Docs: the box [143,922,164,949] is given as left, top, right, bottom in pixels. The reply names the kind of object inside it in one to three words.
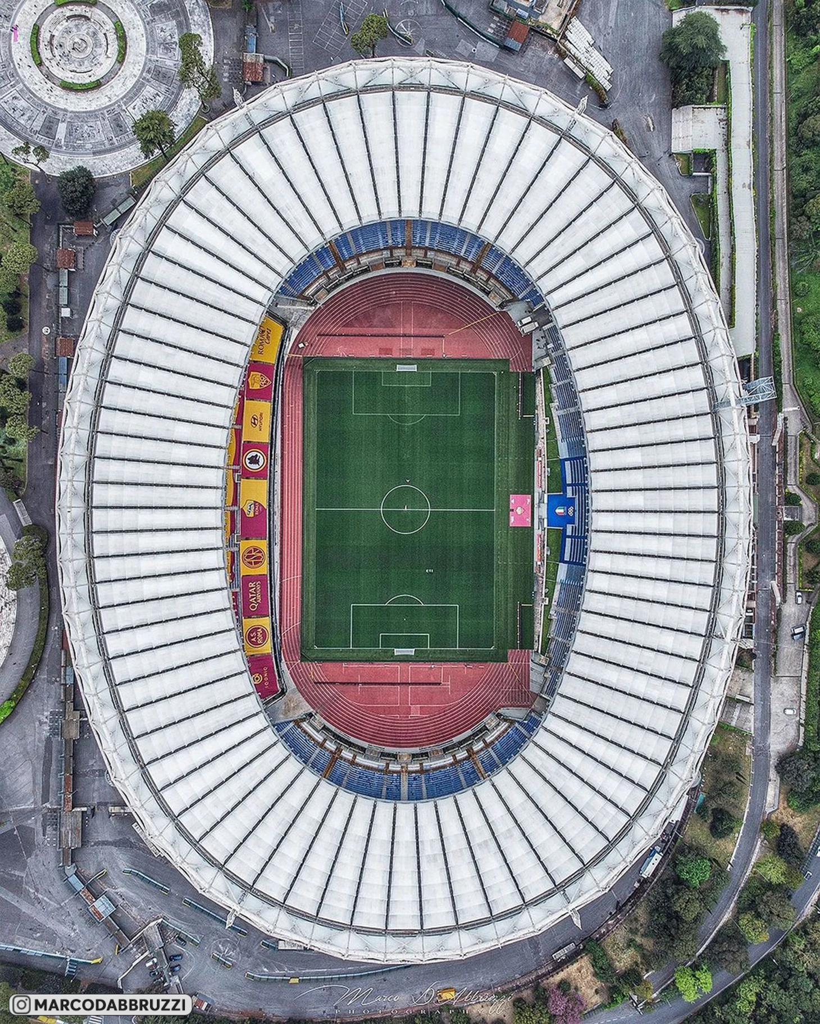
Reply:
building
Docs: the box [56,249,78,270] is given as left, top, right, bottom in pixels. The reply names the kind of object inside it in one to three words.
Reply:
building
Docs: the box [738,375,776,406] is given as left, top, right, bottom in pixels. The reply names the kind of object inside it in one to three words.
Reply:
bridge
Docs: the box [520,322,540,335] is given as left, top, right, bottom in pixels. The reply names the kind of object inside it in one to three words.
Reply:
vehicle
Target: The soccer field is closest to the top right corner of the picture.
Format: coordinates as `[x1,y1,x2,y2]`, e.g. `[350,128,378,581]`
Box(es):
[302,358,534,663]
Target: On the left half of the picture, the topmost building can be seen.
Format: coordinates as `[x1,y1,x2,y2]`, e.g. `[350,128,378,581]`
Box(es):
[242,53,265,86]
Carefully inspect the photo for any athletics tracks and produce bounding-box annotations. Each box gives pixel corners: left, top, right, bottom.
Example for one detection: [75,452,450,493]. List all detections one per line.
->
[281,273,537,748]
